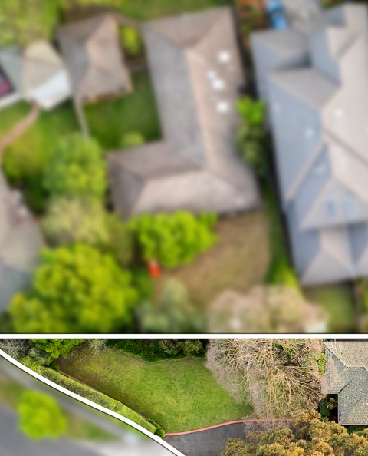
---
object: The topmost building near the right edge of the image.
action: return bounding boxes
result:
[249,1,368,286]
